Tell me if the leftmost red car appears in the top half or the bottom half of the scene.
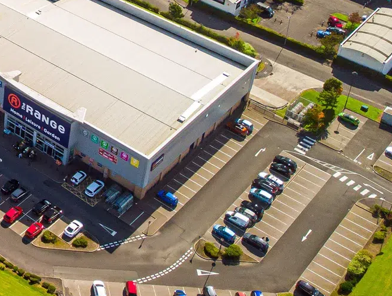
bottom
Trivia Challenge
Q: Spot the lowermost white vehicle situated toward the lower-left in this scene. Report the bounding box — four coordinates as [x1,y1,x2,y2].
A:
[92,279,107,296]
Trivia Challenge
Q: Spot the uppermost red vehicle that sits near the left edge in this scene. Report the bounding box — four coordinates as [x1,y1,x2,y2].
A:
[2,204,25,225]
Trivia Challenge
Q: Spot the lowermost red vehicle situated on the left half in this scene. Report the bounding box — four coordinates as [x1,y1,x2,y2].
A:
[123,280,138,296]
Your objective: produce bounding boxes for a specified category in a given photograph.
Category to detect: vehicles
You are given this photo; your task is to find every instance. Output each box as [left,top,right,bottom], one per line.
[63,219,85,239]
[241,234,271,256]
[239,198,266,217]
[294,281,322,296]
[252,178,279,197]
[256,172,284,189]
[0,177,22,196]
[227,123,248,136]
[327,21,344,30]
[212,227,238,244]
[9,188,29,203]
[123,280,138,296]
[337,113,360,127]
[173,291,187,296]
[247,189,275,207]
[156,190,181,208]
[269,161,293,177]
[25,223,44,240]
[225,207,253,230]
[327,16,343,26]
[68,170,89,187]
[316,28,326,38]
[234,115,258,131]
[235,205,262,225]
[42,204,65,225]
[84,179,105,198]
[203,286,218,296]
[2,204,25,225]
[92,279,107,296]
[273,156,300,172]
